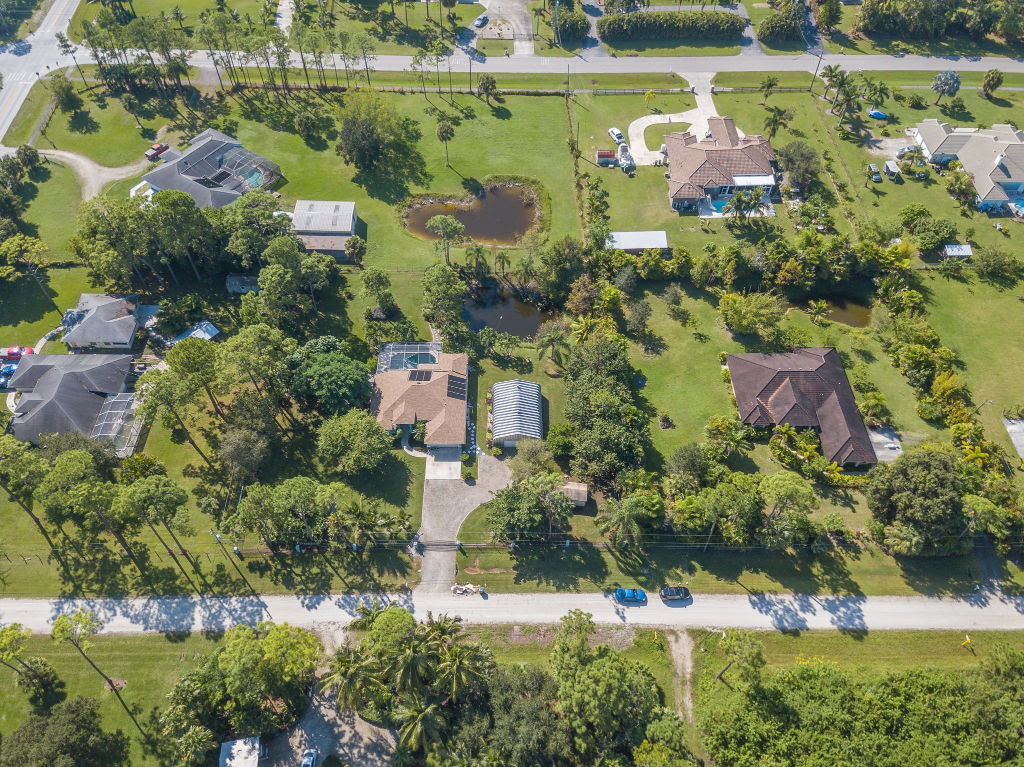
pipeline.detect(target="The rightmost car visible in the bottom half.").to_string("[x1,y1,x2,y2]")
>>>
[659,586,694,603]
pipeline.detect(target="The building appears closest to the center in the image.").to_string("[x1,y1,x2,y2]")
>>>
[491,380,544,448]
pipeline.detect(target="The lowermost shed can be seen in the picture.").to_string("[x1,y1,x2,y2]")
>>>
[560,483,587,508]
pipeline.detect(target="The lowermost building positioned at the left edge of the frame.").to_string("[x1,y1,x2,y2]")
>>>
[6,355,145,448]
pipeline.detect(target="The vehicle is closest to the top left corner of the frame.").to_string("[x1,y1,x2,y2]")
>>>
[142,144,170,159]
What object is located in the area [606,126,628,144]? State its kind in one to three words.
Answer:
vehicle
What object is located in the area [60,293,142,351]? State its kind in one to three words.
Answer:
house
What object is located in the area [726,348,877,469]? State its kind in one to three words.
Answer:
house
